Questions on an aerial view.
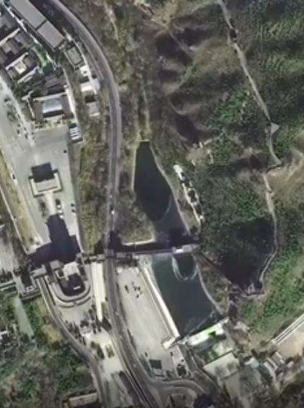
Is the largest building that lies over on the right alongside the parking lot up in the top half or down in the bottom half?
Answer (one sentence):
The largest building that lies over on the right alongside the parking lot is in the bottom half of the image.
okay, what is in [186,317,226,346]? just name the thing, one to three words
building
